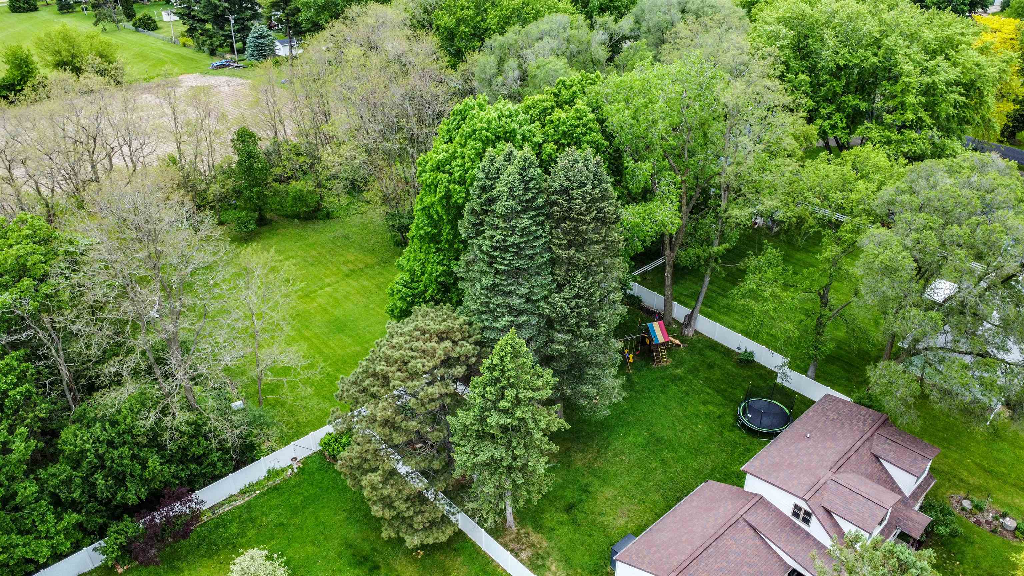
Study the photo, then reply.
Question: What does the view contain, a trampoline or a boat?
trampoline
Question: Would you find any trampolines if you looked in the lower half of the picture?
Yes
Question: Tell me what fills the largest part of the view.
trees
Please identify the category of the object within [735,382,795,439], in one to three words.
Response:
trampoline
